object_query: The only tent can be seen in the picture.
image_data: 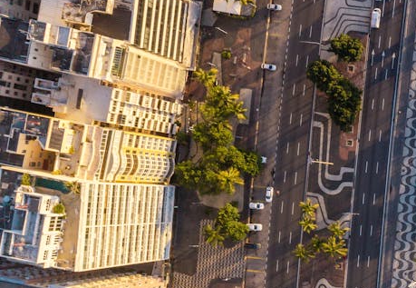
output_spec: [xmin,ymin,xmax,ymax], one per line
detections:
[213,0,244,16]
